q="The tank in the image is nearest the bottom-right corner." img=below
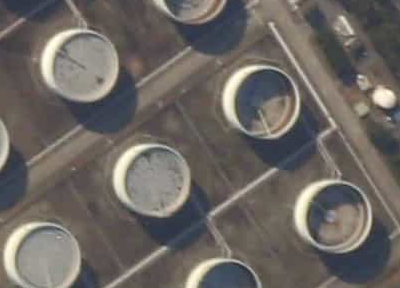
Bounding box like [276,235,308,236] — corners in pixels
[288,172,371,258]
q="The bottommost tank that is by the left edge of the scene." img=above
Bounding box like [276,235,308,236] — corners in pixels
[0,212,80,288]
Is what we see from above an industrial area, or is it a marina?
industrial area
